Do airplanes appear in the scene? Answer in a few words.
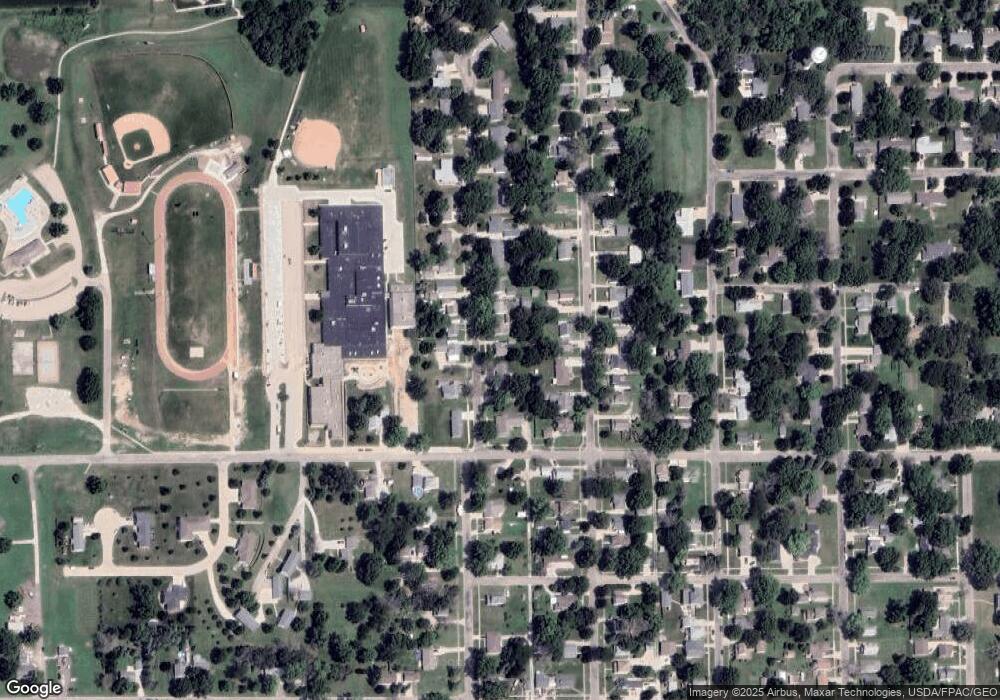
No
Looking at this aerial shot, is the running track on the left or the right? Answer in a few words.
left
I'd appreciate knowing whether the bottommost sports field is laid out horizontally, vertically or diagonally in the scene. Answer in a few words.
vertically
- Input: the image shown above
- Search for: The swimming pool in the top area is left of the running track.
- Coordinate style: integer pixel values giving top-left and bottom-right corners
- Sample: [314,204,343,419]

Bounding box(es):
[0,176,50,270]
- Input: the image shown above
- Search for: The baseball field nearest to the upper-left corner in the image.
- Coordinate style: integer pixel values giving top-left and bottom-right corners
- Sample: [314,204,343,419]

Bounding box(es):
[94,54,232,172]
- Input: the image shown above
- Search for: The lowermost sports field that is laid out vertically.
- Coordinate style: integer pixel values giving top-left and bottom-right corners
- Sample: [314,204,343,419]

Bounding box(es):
[168,184,226,369]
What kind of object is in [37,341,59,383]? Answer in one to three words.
sports court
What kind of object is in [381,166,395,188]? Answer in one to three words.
shed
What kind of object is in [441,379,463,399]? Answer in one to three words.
house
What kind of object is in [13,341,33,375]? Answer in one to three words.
sports court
